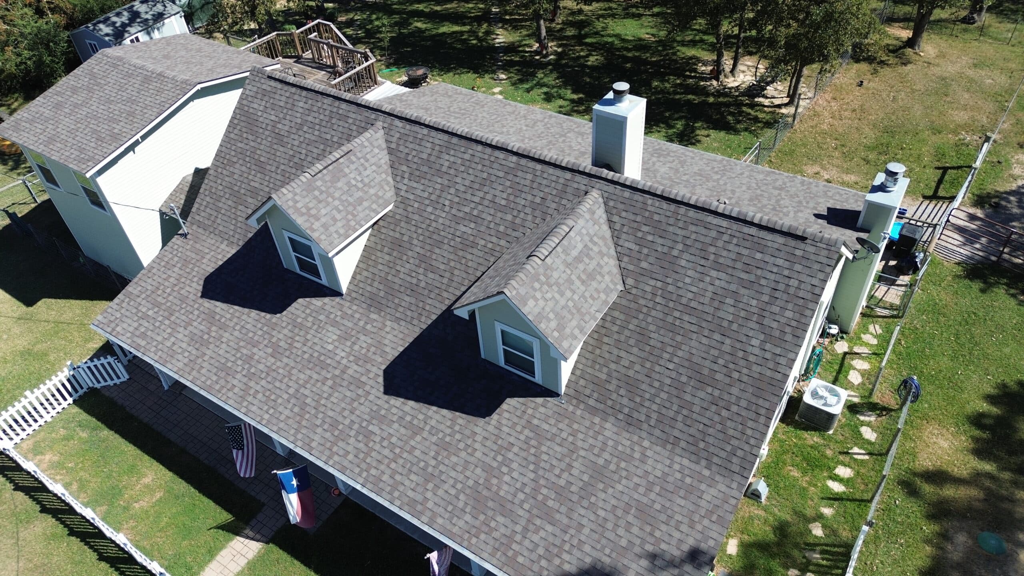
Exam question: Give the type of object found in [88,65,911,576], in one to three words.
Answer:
house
